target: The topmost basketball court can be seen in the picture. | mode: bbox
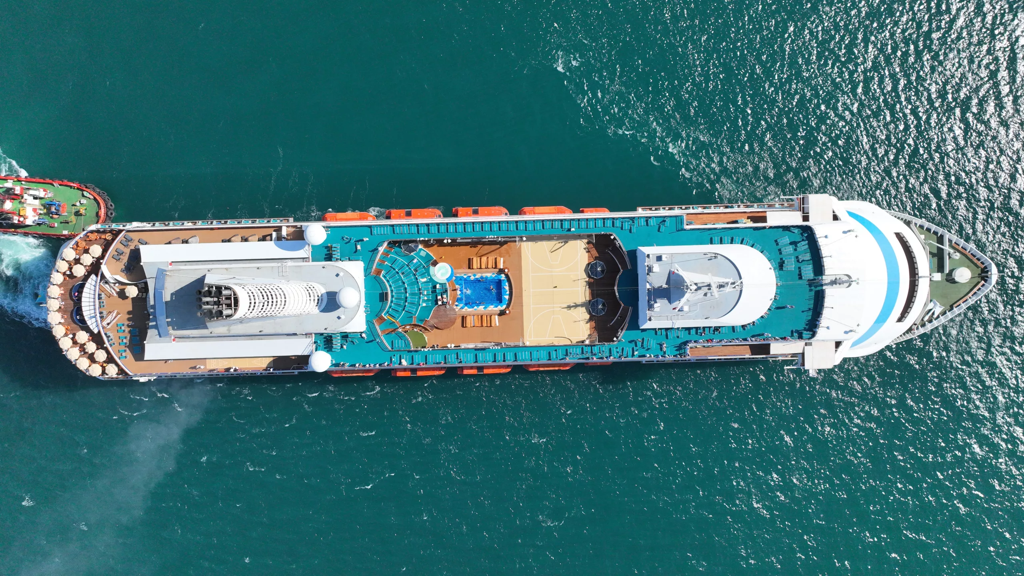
[521,240,590,344]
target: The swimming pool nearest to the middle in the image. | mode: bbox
[451,268,515,316]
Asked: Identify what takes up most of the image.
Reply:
water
